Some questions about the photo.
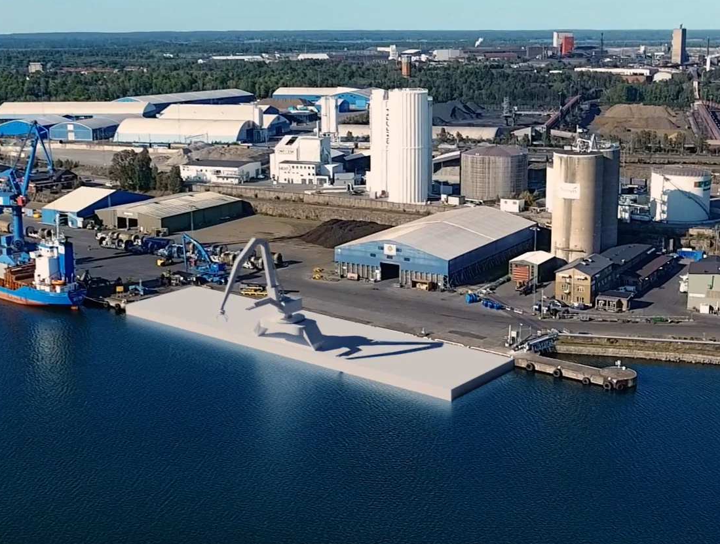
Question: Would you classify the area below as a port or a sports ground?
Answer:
port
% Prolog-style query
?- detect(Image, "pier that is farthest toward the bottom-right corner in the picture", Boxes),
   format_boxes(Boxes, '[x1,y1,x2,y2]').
[512,351,638,389]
